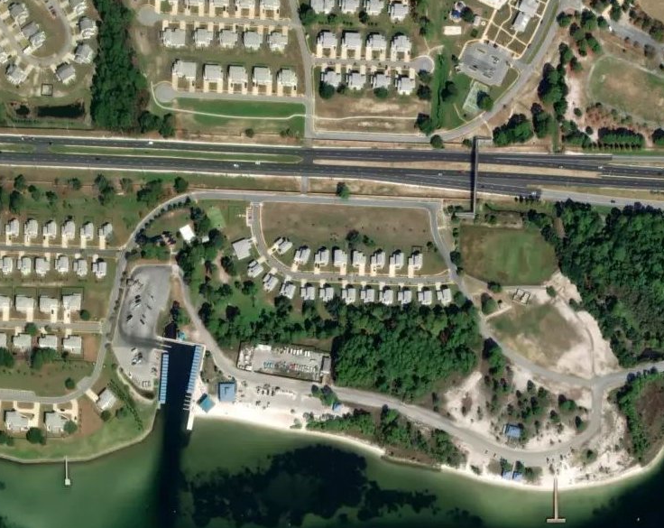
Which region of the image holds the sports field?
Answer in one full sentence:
The sports field appears toward the top right of the photo.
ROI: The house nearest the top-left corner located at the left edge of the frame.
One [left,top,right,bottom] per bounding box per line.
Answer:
[7,0,33,23]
